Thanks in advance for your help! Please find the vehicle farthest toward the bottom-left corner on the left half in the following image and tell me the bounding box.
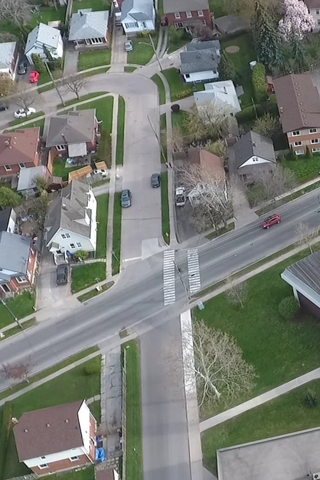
[54,261,69,287]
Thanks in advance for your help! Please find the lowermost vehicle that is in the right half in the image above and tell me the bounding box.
[259,213,283,230]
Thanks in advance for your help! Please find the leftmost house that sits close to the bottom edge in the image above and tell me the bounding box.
[15,399,94,469]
